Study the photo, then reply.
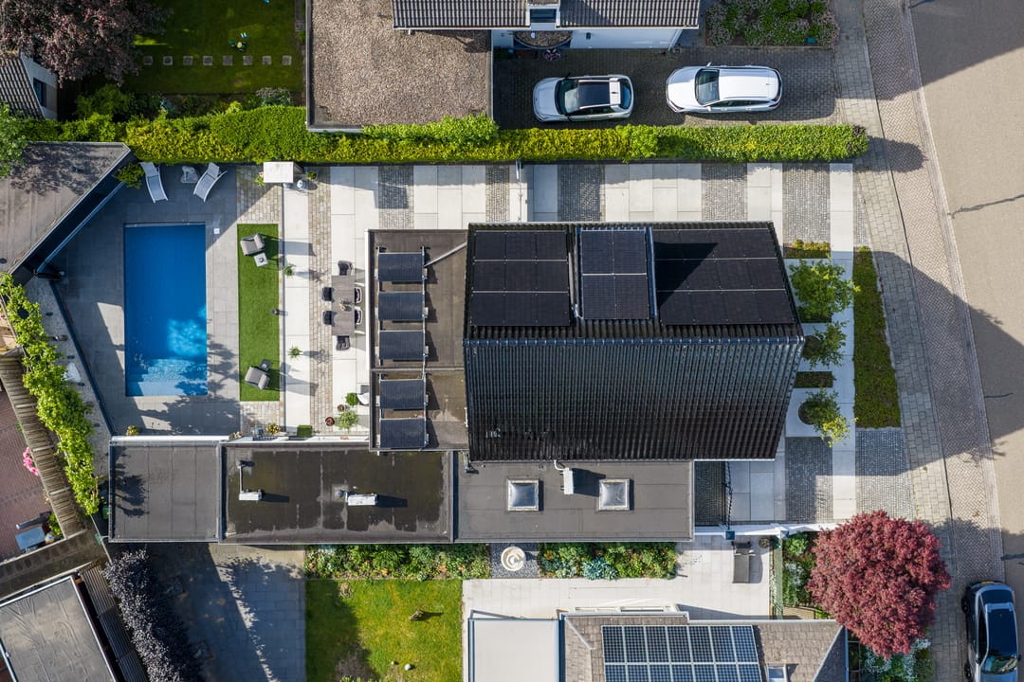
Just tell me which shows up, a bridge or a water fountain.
water fountain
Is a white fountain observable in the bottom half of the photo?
Yes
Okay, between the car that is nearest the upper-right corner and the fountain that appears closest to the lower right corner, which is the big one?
the car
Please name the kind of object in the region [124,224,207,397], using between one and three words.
swimming pool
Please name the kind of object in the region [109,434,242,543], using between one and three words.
building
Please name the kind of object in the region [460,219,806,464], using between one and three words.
house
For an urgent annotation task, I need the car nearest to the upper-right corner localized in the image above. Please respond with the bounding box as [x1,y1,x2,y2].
[666,59,781,116]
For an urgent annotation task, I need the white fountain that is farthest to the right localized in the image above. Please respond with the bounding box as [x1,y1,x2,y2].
[501,547,525,571]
